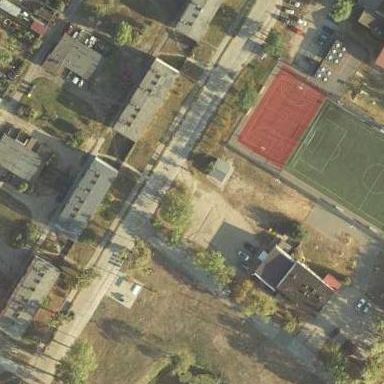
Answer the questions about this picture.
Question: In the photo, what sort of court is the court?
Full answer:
The court appears to be a basketball court.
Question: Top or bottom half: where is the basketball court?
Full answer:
You can find the basketball court in the top half.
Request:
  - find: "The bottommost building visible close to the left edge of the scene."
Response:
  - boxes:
[0,252,61,338]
